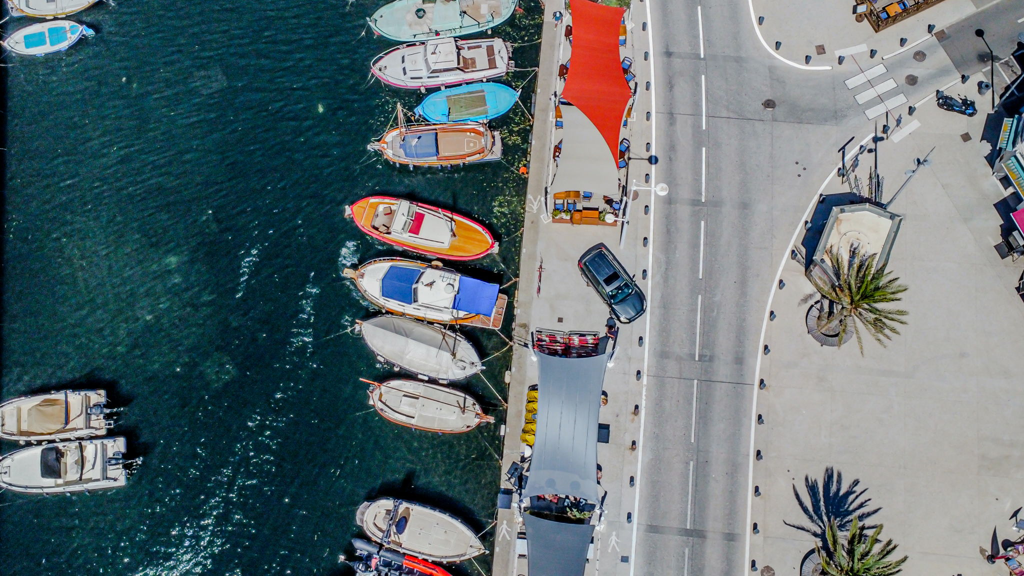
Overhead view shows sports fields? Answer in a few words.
No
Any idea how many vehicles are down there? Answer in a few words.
2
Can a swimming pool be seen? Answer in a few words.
No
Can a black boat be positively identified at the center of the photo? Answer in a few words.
No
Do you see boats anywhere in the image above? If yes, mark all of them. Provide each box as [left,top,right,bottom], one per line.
[340,538,456,576]
[343,257,508,329]
[359,378,495,436]
[9,0,110,21]
[349,314,486,383]
[0,19,97,58]
[369,37,515,93]
[414,82,522,123]
[0,434,145,497]
[0,388,121,445]
[367,0,523,46]
[368,104,502,171]
[345,196,499,262]
[356,497,489,565]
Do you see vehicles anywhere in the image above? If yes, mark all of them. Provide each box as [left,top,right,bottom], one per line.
[576,243,647,325]
[935,88,976,114]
